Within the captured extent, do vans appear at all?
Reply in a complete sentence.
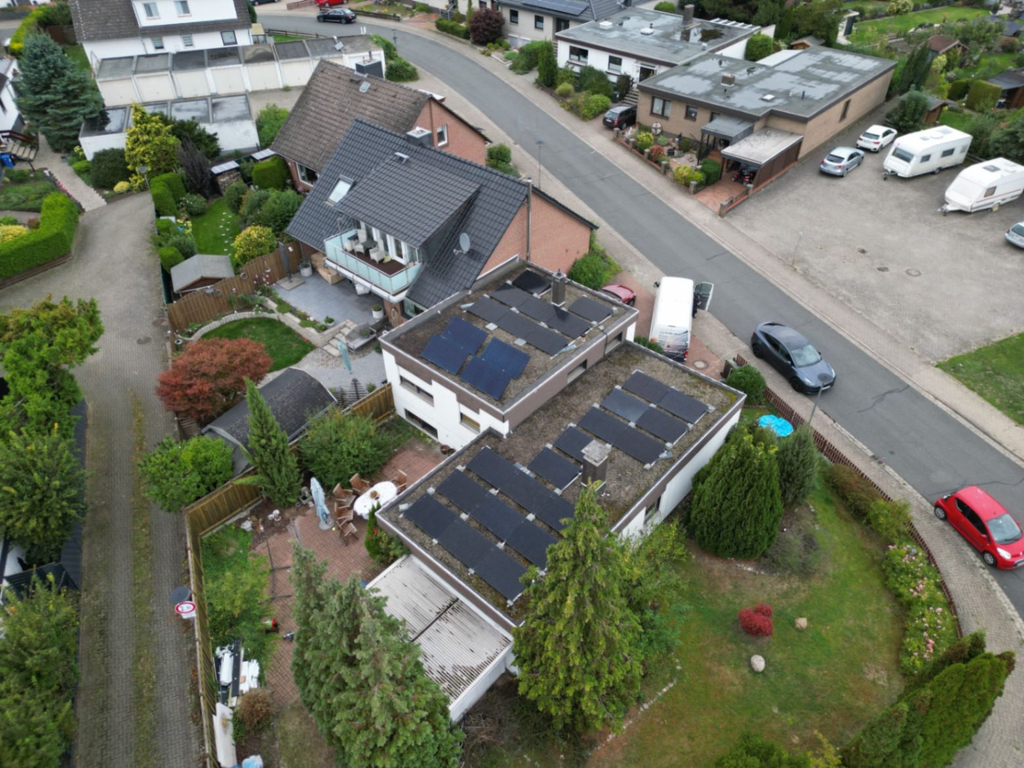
Yes, a van can be made out from above.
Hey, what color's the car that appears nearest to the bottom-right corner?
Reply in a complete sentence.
The car that appears nearest to the bottom-right corner looks red in the image.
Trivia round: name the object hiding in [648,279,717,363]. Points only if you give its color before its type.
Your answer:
white van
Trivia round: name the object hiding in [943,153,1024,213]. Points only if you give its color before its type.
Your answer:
white camper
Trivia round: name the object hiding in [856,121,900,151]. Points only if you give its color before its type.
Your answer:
white car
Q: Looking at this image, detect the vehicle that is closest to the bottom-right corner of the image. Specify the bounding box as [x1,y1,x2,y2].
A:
[935,488,1024,574]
